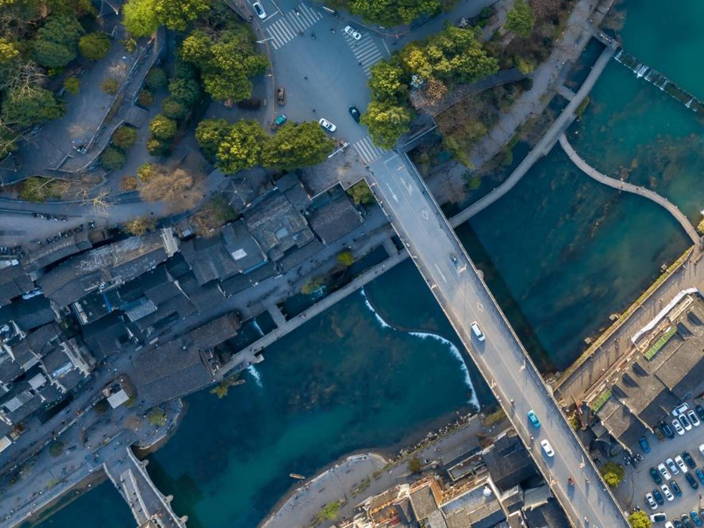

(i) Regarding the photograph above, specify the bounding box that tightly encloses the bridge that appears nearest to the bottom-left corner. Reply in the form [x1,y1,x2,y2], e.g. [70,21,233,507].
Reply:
[102,445,193,528]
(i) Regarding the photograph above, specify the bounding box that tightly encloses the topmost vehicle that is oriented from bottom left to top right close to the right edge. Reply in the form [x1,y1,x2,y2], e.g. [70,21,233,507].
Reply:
[672,402,690,421]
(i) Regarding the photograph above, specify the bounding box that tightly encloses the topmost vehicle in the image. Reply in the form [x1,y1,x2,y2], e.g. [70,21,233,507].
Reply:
[252,1,266,19]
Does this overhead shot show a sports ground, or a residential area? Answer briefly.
residential area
